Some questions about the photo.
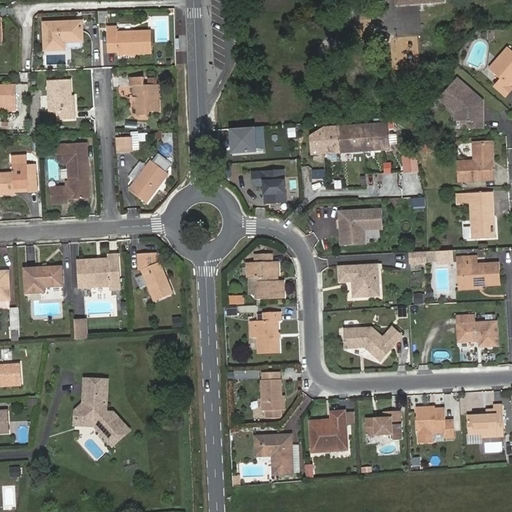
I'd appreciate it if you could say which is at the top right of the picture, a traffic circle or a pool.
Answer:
pool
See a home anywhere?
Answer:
Yes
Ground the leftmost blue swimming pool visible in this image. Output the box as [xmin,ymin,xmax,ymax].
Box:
[14,424,28,444]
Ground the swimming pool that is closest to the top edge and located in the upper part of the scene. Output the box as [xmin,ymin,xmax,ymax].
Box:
[154,18,168,41]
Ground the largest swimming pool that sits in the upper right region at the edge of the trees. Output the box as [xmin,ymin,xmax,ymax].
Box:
[464,40,489,68]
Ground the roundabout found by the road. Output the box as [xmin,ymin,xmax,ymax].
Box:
[164,183,242,261]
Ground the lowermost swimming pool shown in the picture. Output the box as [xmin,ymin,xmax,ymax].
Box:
[2,486,14,510]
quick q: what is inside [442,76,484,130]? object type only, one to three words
house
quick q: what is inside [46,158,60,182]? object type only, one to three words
swimming pool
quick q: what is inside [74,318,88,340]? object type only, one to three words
building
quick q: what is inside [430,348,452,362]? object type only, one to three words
swimming pool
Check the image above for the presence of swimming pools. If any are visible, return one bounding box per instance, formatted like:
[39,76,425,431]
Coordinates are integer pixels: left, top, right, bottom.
[241,464,264,477]
[434,266,450,292]
[378,444,396,454]
[46,158,60,182]
[32,298,63,319]
[289,179,297,190]
[484,442,503,454]
[154,18,168,41]
[464,40,489,68]
[429,454,441,466]
[430,348,452,362]
[46,54,65,64]
[86,300,112,314]
[14,424,28,444]
[84,438,103,457]
[2,486,14,510]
